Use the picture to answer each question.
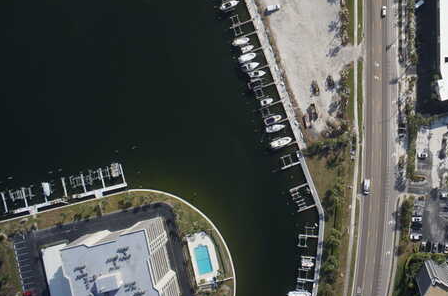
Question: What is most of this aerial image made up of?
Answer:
water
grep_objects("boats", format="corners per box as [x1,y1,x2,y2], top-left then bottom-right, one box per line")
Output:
[260,98,274,106]
[42,182,50,197]
[301,260,313,267]
[265,124,286,133]
[241,62,260,70]
[241,46,255,53]
[264,115,282,126]
[238,53,257,62]
[248,69,267,77]
[270,137,293,149]
[110,163,119,178]
[232,36,251,46]
[220,1,239,11]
